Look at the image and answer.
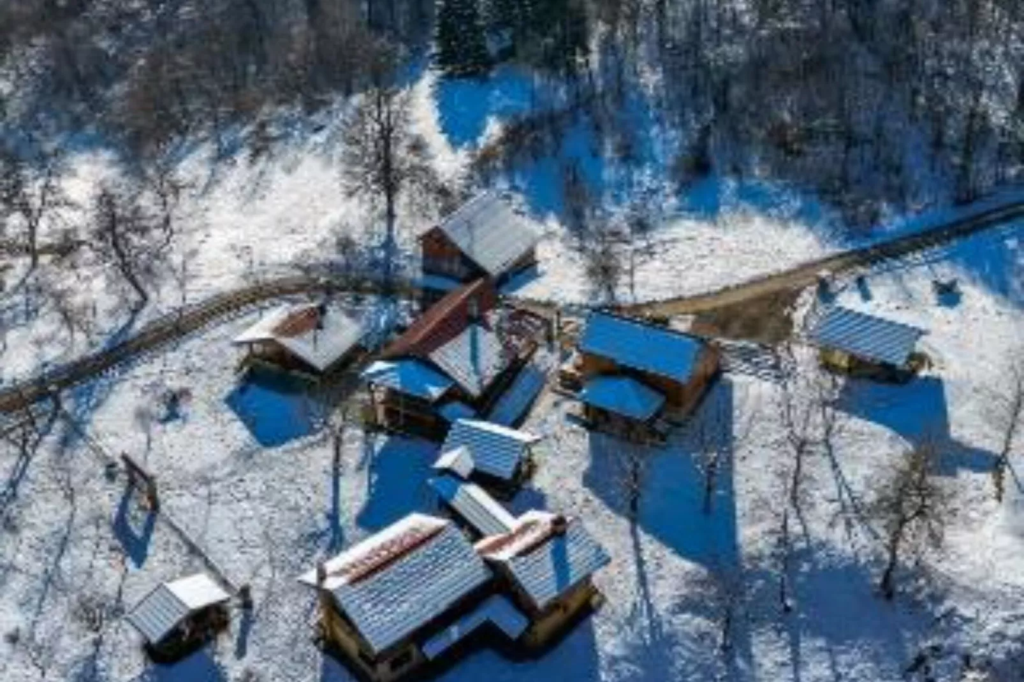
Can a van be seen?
No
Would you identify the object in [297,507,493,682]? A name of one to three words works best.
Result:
house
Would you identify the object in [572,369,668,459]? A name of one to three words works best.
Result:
building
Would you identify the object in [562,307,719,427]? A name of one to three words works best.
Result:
house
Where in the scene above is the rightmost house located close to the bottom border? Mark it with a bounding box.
[474,508,624,661]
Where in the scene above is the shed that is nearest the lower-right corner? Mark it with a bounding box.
[816,304,922,392]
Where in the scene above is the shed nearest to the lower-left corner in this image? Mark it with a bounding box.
[125,571,230,660]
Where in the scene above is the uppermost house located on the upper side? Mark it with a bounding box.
[404,192,537,314]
